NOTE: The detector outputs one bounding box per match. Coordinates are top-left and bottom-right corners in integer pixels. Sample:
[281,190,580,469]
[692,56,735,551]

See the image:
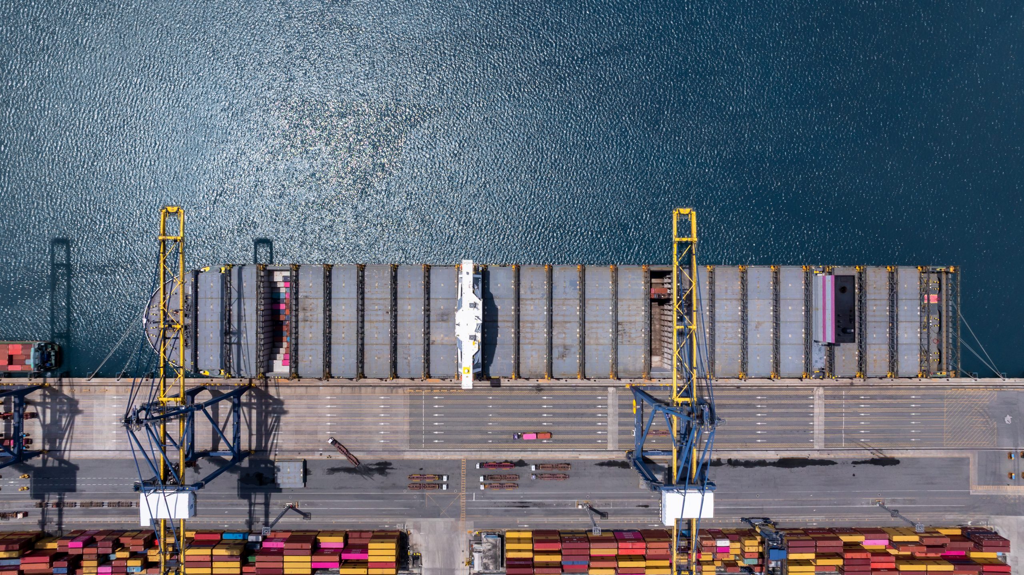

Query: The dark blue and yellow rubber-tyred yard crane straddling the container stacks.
[741,519,789,575]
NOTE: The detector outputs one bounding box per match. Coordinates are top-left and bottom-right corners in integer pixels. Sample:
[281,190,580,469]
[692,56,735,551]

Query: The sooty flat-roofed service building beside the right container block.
[482,533,501,571]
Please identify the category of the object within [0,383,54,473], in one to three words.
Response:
container crane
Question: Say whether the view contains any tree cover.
No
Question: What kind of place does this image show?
port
